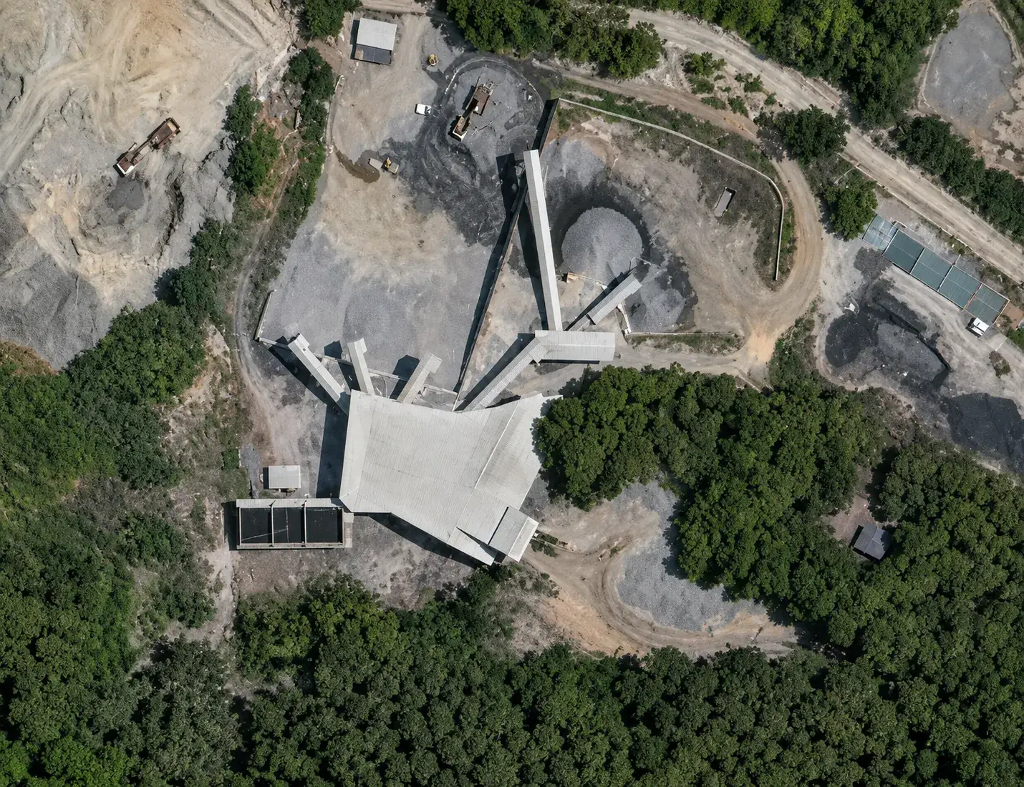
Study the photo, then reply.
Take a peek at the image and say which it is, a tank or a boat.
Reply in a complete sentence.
It is a tank that can be seen here.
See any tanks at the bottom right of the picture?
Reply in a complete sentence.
No, I see no tank at the bottom right of the picture.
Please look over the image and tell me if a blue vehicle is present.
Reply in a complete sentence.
No, the photo shows no blue vehicle.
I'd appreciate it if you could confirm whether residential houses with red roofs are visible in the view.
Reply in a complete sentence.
No, there appears to be no residential house with a red roof in this shot.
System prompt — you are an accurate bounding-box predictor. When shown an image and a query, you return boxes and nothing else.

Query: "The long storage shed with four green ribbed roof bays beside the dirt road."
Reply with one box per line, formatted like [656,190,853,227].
[883,228,1010,325]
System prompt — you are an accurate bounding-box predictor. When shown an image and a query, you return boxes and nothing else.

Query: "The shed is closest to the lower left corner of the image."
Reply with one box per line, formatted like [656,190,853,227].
[268,465,301,489]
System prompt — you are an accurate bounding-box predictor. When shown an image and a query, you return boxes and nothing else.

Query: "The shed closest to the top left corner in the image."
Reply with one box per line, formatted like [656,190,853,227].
[354,18,397,66]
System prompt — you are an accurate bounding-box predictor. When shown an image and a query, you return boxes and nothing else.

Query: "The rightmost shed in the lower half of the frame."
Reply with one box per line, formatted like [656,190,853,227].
[854,525,892,560]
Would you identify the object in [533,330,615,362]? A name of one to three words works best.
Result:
house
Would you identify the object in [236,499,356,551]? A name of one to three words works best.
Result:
storage tank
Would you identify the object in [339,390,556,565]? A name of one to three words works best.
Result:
building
